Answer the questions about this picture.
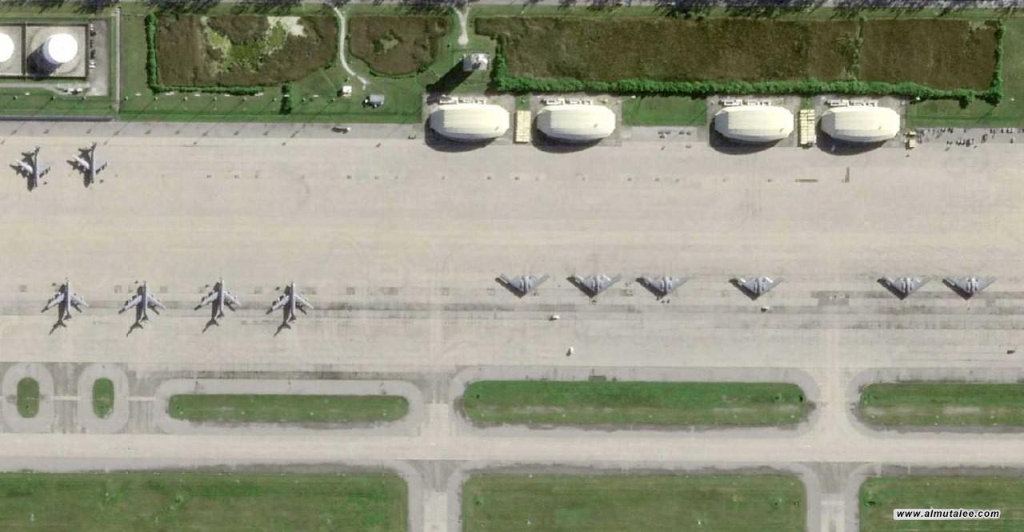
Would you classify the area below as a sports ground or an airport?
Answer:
airport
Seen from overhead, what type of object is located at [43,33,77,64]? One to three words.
storage tank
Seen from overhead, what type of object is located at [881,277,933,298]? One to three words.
airplane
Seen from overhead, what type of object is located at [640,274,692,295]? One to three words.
airplane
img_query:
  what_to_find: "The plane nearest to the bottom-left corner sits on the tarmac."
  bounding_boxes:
[49,281,89,322]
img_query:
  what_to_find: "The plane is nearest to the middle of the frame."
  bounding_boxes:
[499,273,551,294]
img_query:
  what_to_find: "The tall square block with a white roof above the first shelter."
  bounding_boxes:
[462,53,489,73]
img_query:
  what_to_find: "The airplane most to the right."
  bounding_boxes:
[946,277,998,298]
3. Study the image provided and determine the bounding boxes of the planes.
[640,274,692,295]
[571,274,623,294]
[74,139,114,182]
[946,277,998,298]
[274,283,314,324]
[734,276,786,297]
[17,144,57,187]
[499,273,551,294]
[881,277,933,298]
[203,280,243,321]
[126,282,166,324]
[49,281,89,322]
